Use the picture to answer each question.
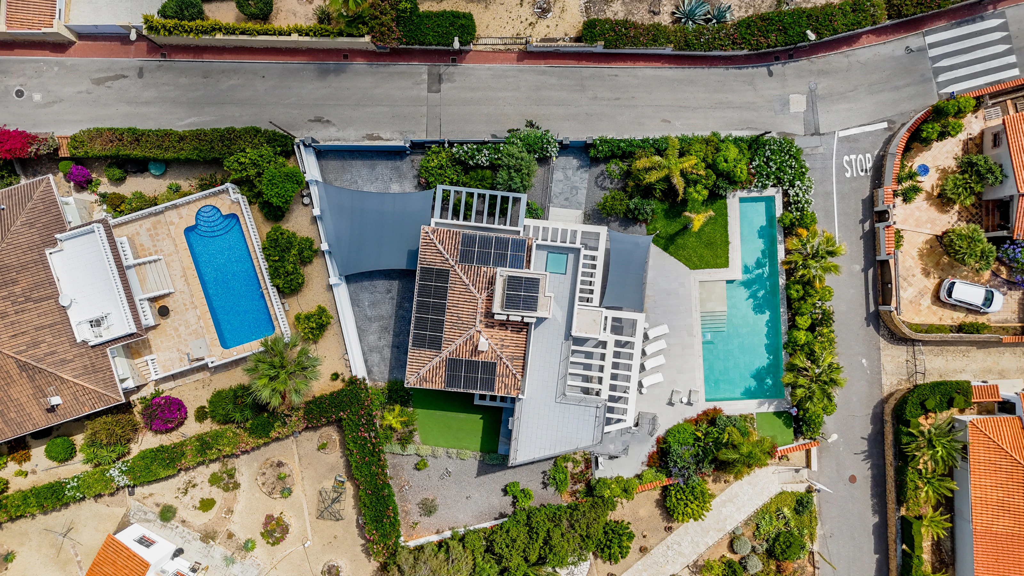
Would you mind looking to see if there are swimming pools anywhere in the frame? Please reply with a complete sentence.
Yes, looking at the shot, I can spot a swimming pool.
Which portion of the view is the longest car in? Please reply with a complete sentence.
You can find the longest car in the right area of the picture.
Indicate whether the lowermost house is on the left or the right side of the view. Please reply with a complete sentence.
The lowermost house appears in the left half of the scene.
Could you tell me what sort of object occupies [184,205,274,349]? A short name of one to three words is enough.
swimming pool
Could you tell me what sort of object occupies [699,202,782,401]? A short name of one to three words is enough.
swimming pool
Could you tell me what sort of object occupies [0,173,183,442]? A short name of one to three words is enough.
house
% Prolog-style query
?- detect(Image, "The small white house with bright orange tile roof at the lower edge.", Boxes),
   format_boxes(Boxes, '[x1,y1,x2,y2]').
[81,521,212,576]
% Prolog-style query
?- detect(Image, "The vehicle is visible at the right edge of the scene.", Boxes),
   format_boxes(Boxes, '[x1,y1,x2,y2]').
[936,278,1002,314]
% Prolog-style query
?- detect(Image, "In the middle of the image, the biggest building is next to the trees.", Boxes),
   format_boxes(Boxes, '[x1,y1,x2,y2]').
[403,185,646,470]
